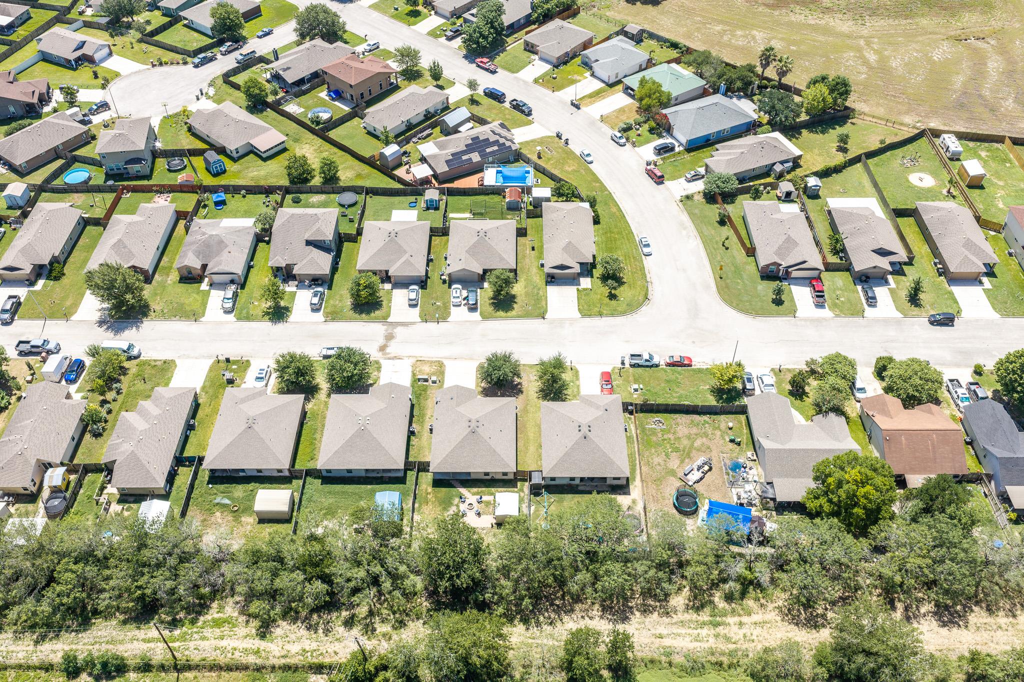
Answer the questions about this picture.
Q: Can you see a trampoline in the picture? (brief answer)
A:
Yes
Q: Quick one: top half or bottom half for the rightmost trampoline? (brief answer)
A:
bottom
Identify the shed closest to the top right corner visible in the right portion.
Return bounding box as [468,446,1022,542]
[963,165,990,186]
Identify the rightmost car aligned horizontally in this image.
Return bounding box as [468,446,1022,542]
[927,312,958,326]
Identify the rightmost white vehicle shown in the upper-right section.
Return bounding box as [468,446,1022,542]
[941,125,966,160]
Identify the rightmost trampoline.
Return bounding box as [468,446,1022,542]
[673,485,702,516]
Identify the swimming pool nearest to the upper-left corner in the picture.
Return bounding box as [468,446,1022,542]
[61,168,91,185]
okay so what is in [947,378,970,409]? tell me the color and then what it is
white truck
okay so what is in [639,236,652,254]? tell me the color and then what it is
white vehicle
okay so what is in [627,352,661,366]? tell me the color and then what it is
white vehicle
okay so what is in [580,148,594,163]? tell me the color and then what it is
white car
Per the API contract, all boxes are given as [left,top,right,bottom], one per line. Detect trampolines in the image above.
[623,506,648,529]
[336,195,357,210]
[673,485,702,516]
[165,155,184,172]
[35,494,66,524]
